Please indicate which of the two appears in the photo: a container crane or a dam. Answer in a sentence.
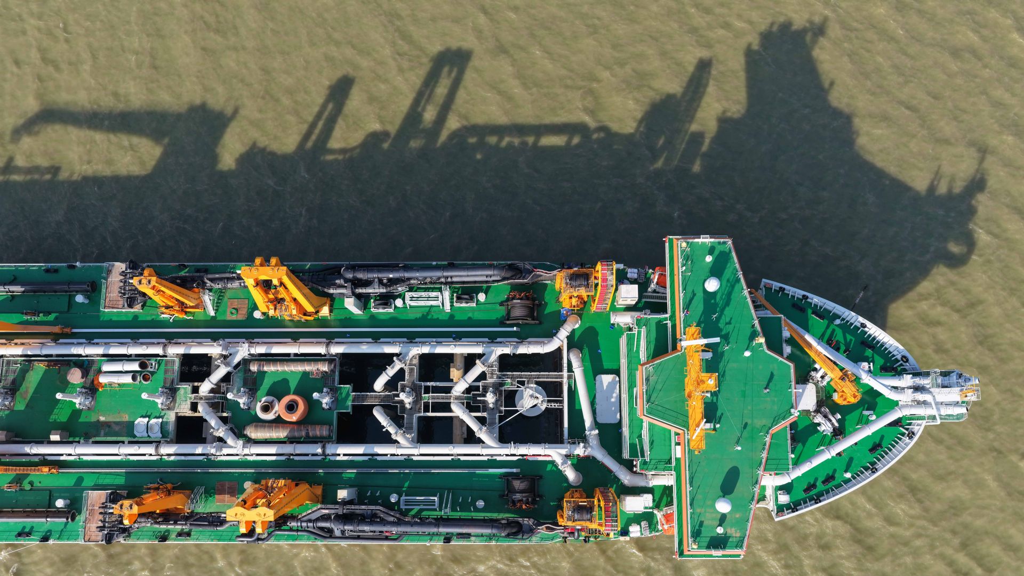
It is a container crane that can be seen here.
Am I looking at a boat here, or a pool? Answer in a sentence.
Visible in the photo is a boat.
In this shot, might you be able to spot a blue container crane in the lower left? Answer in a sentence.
No, no blue container crane can be made out in the lower left.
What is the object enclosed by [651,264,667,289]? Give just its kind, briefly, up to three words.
boat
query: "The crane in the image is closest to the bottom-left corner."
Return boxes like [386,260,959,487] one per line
[114,478,198,527]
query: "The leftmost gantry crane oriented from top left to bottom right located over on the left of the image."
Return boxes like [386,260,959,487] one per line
[134,268,212,323]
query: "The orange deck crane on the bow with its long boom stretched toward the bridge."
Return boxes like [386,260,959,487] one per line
[750,287,876,410]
